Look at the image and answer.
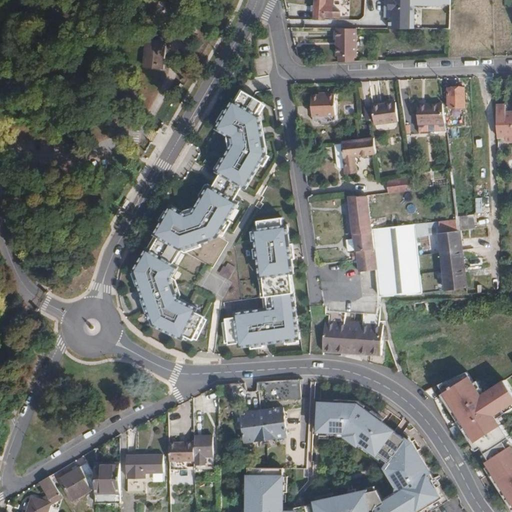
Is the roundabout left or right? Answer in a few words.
left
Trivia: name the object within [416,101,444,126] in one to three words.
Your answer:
house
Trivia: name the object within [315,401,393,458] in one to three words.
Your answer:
house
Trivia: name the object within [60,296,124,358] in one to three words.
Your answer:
roundabout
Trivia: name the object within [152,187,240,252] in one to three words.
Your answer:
building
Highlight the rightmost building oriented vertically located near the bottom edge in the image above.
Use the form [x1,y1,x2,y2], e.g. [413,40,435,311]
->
[484,444,512,510]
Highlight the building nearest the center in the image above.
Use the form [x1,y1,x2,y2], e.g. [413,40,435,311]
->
[252,218,294,298]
